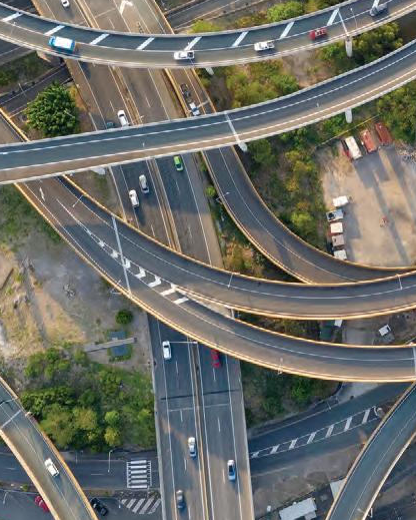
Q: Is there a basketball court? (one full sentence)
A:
No, this view has no basketball court in it.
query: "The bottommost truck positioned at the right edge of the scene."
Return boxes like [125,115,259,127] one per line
[371,321,397,343]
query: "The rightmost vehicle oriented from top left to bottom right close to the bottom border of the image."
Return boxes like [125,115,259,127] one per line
[90,496,109,517]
